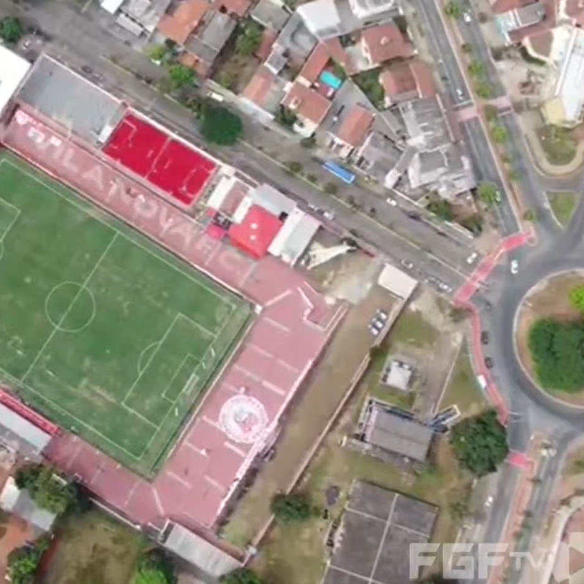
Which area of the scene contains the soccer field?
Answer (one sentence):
Look in the left portion of the view to spot the soccer field.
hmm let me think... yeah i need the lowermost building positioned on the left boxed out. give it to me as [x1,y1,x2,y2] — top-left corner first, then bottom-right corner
[162,518,244,577]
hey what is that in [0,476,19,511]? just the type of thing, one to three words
shed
